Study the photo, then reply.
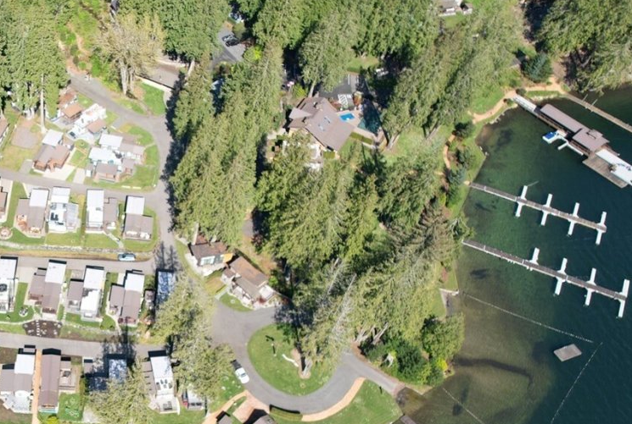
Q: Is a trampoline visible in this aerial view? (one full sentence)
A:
No, the photo shows no trampoline.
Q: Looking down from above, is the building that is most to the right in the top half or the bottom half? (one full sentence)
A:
The building that is most to the right sits in the top half of the picture.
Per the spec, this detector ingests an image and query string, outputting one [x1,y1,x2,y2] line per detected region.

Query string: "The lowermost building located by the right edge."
[571,127,610,159]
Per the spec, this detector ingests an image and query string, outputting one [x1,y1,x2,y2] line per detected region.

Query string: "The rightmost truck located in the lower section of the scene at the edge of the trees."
[230,359,252,383]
